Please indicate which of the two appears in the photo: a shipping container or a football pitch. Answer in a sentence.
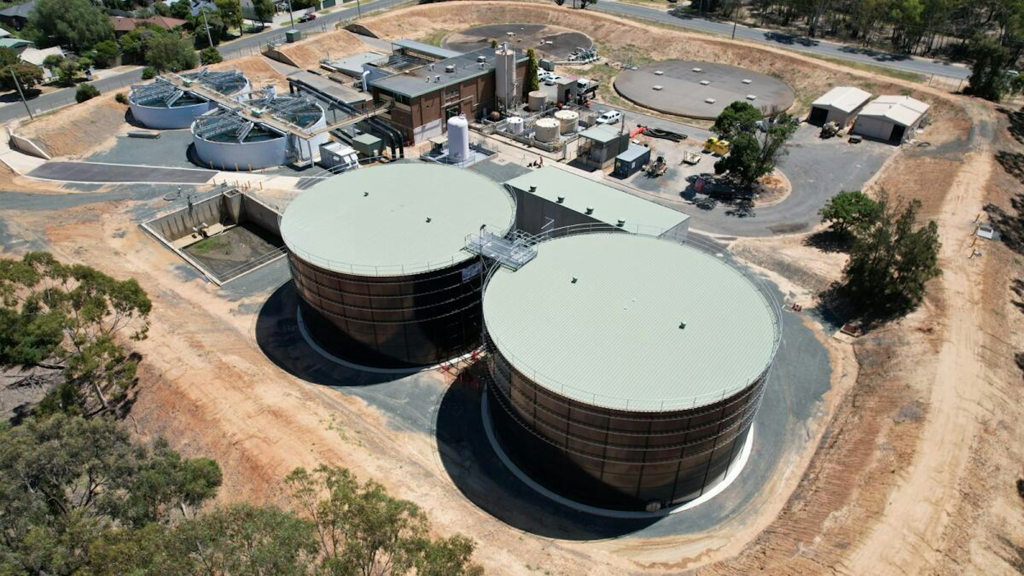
Visible in the photo is a shipping container.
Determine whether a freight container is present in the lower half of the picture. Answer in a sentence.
No, looking in the lower half of the picture, there is no freight container.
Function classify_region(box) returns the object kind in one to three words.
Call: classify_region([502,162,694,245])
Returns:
building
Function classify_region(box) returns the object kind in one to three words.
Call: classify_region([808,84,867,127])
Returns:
shed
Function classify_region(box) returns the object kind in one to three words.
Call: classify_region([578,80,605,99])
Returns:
vehicle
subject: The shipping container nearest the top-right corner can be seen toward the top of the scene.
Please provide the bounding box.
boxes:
[614,146,651,177]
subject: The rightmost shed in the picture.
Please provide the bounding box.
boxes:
[854,93,930,142]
